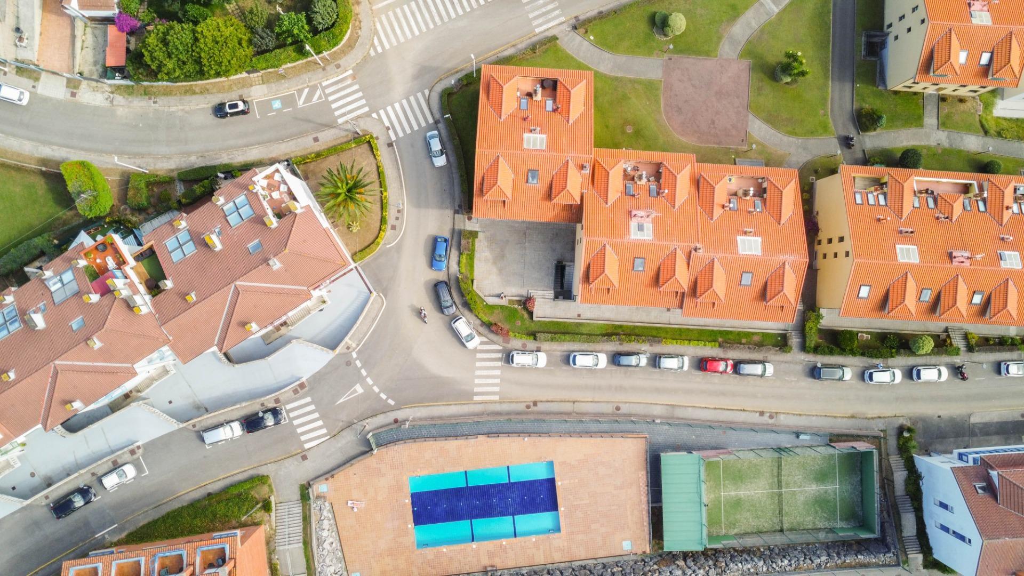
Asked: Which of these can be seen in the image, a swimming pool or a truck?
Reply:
swimming pool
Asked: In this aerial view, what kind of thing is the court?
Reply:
tennis court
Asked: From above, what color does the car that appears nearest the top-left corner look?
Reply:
white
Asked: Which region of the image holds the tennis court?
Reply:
bottom right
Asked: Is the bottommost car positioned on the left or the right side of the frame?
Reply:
left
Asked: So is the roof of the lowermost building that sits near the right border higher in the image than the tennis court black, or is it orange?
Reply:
orange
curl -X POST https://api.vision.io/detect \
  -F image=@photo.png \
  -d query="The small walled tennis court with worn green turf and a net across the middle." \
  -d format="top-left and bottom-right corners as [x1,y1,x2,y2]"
[700,439,887,546]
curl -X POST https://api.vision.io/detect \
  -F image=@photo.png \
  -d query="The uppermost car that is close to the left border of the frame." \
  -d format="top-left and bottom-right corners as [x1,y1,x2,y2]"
[0,83,33,106]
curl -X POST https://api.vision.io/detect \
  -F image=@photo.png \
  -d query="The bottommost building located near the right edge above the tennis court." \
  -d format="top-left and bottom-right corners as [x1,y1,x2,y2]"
[811,164,1024,327]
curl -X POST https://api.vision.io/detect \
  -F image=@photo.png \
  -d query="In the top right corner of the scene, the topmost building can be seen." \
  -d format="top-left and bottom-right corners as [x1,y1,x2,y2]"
[879,0,1024,98]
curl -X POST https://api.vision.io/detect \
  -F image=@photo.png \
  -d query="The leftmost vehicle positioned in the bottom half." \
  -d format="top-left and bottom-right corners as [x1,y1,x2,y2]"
[51,486,97,518]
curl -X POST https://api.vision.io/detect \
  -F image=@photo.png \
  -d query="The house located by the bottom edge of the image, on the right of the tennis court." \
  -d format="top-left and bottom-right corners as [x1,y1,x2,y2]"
[914,441,1024,576]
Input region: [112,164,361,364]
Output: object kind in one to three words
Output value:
house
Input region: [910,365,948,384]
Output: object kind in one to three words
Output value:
car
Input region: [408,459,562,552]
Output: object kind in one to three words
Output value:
swimming pool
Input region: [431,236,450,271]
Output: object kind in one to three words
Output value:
car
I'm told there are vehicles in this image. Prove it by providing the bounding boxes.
[421,309,429,325]
[998,360,1024,376]
[431,236,450,271]
[614,351,648,369]
[863,367,902,386]
[958,370,969,382]
[0,83,33,106]
[699,356,733,375]
[434,280,456,316]
[97,462,140,491]
[451,315,480,350]
[215,99,251,119]
[847,133,855,150]
[51,486,97,518]
[201,420,245,445]
[736,360,773,378]
[426,130,447,167]
[243,408,287,433]
[509,350,546,369]
[569,351,607,370]
[813,364,852,383]
[910,365,948,384]
[656,354,689,372]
